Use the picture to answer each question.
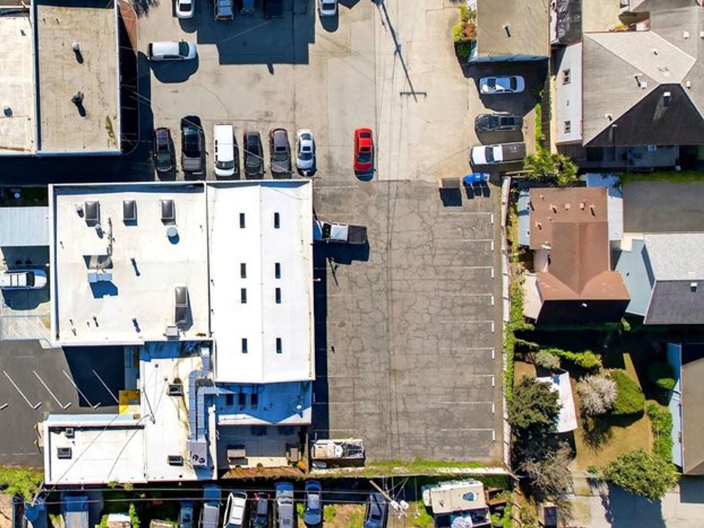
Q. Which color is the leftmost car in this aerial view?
white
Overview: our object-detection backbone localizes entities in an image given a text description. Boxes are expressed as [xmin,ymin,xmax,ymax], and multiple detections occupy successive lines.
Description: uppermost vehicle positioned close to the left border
[0,268,48,292]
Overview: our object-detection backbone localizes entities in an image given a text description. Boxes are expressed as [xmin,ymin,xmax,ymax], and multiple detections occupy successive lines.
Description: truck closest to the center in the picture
[314,220,369,245]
